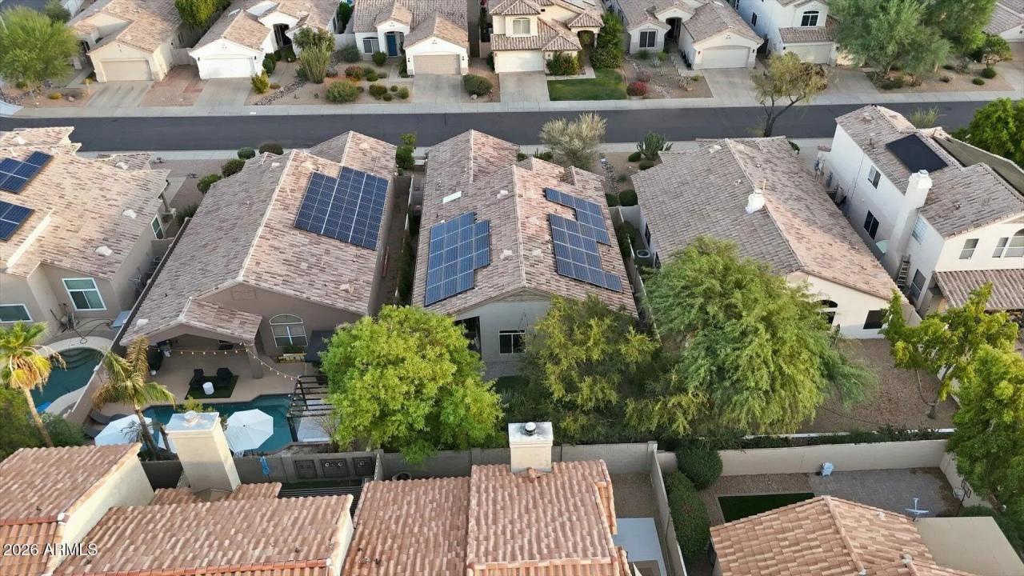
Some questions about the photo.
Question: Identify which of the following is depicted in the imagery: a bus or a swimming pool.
swimming pool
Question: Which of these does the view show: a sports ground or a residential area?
residential area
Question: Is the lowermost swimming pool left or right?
left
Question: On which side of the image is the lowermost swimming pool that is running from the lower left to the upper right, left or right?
left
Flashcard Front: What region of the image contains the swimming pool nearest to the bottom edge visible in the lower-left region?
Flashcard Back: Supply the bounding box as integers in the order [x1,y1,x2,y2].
[133,391,303,456]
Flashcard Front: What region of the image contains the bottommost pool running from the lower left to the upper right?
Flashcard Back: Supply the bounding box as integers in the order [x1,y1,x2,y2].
[0,345,102,427]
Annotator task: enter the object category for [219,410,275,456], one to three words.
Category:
umbrella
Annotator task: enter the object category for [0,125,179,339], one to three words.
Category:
house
